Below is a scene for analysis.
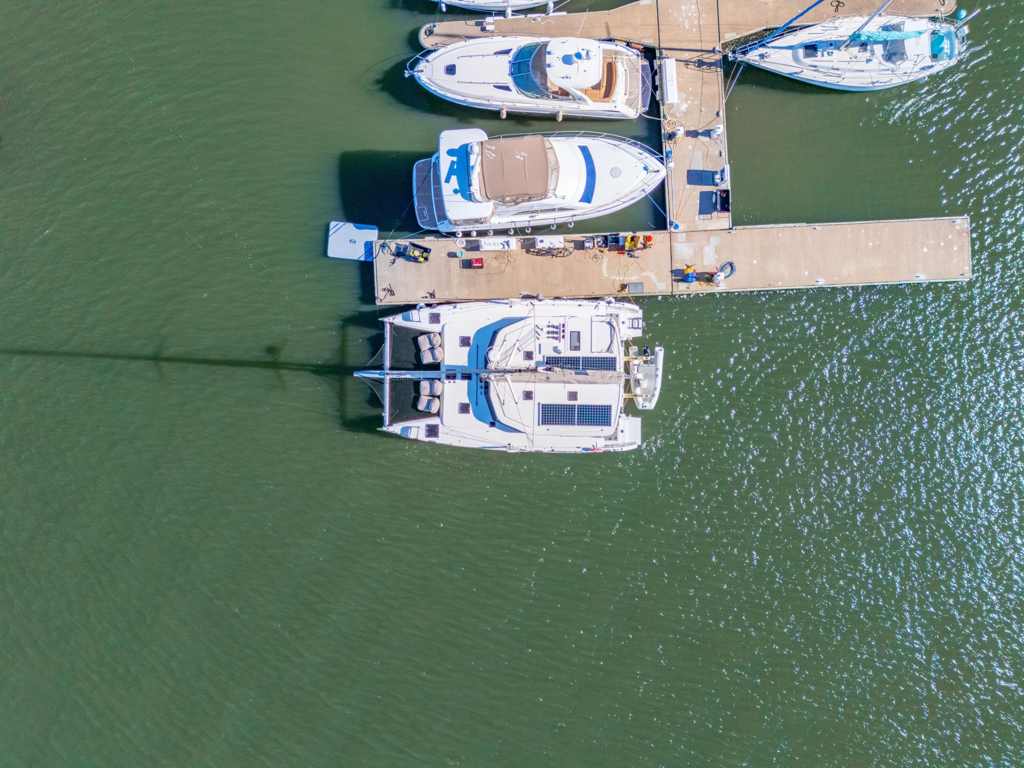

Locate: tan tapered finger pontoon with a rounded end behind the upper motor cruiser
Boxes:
[420,0,657,51]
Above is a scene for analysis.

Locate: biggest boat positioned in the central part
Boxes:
[354,299,650,453]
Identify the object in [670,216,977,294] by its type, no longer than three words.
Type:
pier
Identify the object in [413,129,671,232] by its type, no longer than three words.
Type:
boat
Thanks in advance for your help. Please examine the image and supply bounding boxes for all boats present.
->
[354,299,650,453]
[438,0,567,18]
[402,9,651,122]
[728,0,985,92]
[628,343,663,410]
[413,129,671,232]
